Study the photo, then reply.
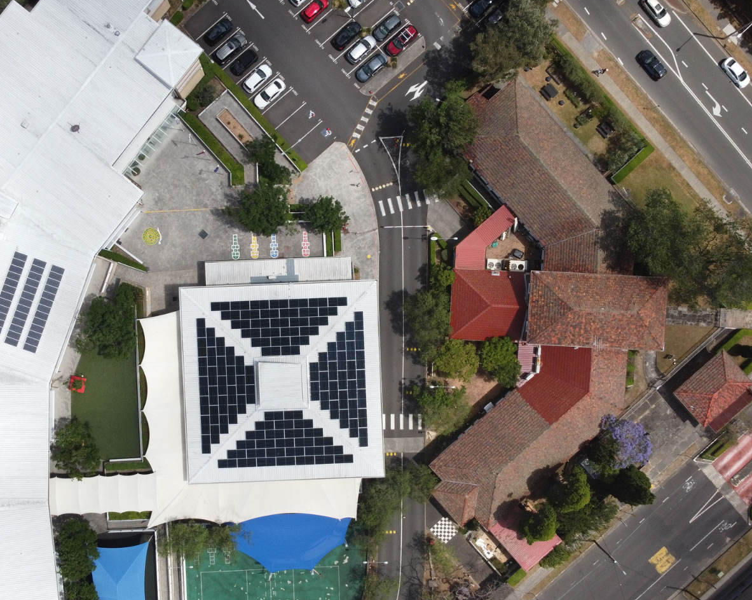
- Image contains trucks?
No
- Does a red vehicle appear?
Yes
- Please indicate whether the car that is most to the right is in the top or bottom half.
top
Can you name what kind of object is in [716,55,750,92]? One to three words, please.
car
